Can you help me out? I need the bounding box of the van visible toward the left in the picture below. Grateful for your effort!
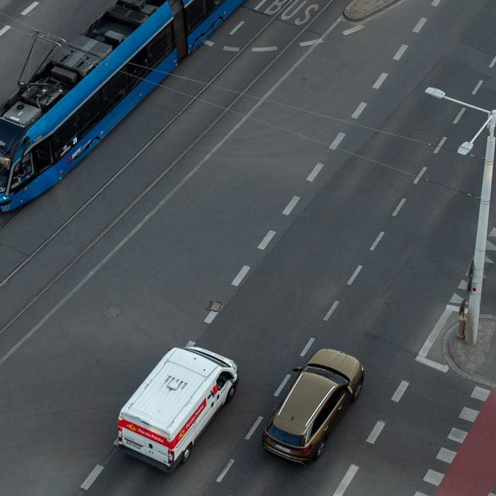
[112,341,243,482]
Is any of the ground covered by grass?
No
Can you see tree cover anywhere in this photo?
No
